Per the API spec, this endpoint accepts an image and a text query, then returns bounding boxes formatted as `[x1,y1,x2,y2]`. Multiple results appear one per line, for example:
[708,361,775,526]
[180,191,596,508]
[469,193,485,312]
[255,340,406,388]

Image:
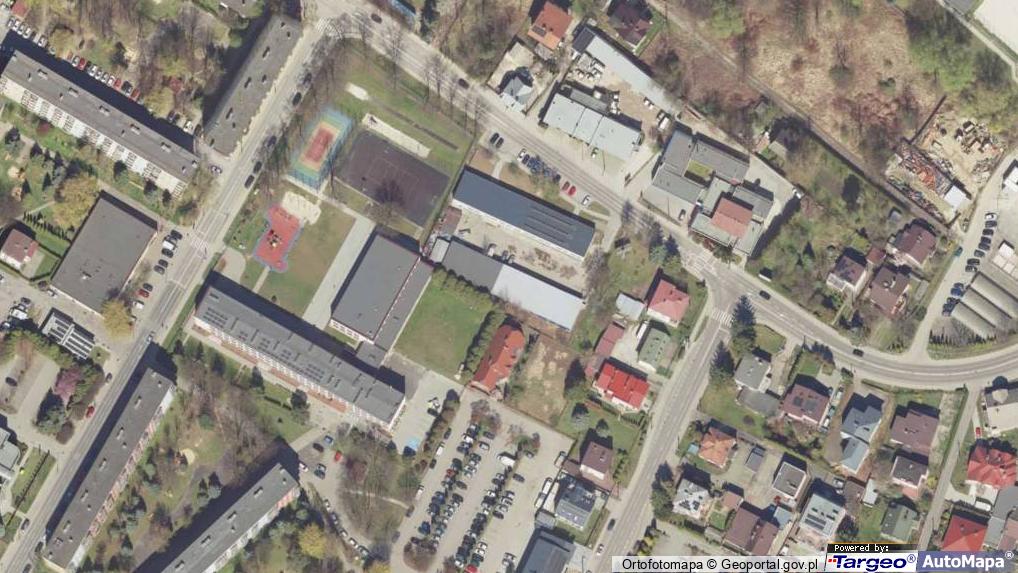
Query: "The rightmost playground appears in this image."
[254,205,303,272]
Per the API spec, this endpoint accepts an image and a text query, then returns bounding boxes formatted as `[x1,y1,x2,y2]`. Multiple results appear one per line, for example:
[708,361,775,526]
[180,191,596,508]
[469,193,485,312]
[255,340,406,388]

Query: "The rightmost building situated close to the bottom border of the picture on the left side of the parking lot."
[165,464,300,573]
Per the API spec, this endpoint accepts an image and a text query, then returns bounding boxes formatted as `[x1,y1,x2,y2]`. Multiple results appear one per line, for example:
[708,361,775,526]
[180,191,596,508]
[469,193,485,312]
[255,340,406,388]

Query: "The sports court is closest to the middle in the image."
[336,120,452,227]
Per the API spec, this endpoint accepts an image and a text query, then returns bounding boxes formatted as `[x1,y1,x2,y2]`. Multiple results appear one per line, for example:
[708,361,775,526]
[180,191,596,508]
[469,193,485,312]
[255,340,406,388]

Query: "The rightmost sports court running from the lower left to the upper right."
[286,103,354,191]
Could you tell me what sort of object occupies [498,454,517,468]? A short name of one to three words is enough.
vehicle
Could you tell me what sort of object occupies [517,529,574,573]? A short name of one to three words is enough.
building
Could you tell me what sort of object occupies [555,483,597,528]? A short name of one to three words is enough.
house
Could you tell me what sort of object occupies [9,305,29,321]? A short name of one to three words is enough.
vehicle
